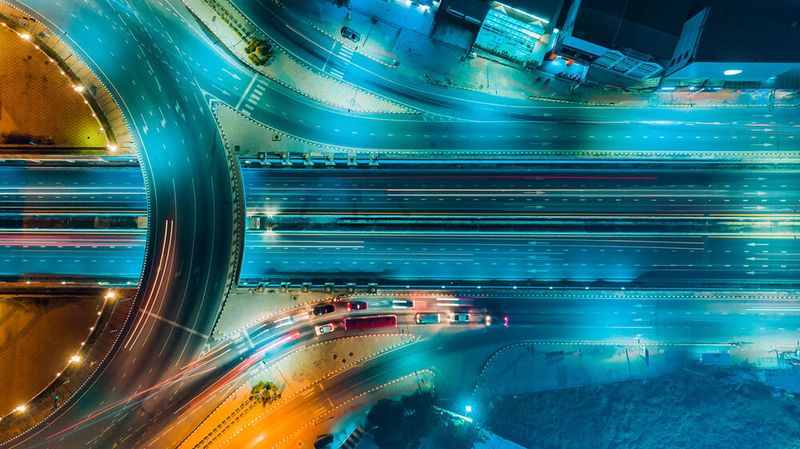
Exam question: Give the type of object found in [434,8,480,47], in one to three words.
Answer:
building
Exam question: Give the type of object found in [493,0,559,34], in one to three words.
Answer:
building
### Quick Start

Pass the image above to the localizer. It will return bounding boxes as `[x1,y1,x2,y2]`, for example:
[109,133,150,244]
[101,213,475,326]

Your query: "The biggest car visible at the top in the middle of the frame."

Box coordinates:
[339,27,360,41]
